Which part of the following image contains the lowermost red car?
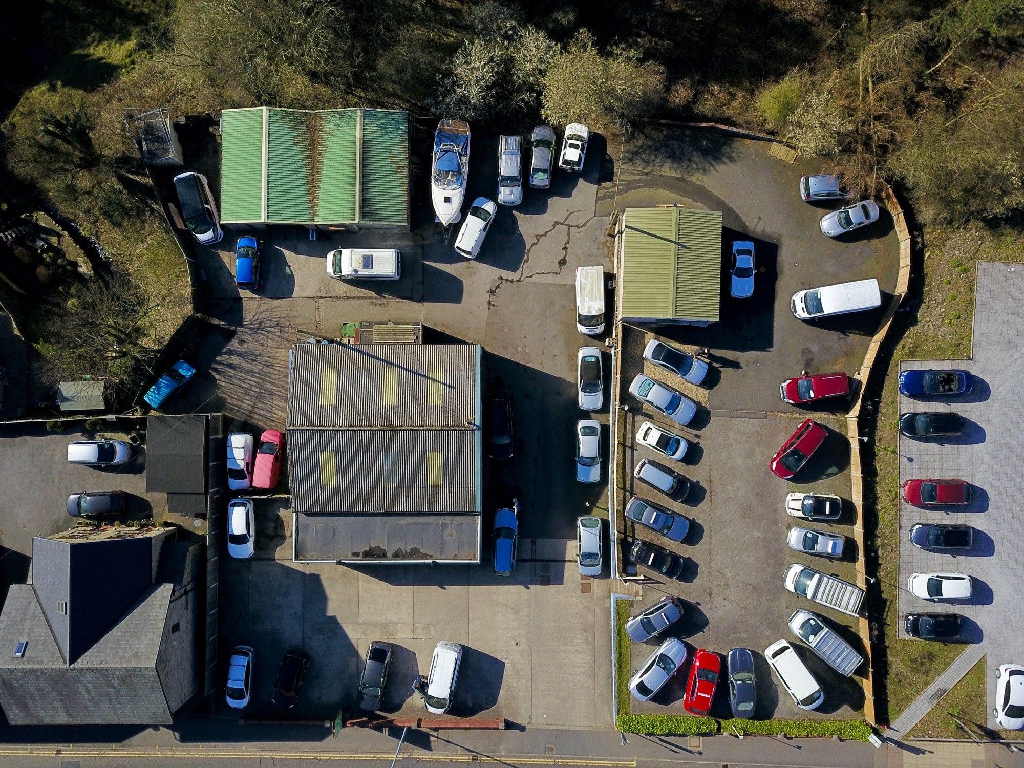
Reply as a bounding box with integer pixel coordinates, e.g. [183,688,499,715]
[682,648,722,715]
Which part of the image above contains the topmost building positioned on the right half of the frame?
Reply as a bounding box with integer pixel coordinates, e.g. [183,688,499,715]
[619,206,723,326]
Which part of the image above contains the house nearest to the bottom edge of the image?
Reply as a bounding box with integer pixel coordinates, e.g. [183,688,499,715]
[0,527,202,725]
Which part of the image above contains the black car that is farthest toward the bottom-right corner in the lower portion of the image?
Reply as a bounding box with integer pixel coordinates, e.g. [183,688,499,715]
[904,611,965,645]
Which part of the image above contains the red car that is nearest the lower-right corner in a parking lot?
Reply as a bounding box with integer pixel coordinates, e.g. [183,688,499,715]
[902,477,972,510]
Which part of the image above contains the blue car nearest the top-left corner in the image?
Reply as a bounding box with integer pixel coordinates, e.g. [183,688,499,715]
[231,236,263,290]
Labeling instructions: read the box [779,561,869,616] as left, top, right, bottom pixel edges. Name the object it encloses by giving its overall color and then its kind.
white truck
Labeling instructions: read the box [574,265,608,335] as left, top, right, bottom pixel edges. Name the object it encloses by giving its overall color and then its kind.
white van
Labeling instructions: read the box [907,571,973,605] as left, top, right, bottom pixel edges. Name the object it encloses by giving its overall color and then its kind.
white car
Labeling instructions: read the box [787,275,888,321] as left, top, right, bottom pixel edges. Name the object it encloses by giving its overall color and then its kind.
white van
